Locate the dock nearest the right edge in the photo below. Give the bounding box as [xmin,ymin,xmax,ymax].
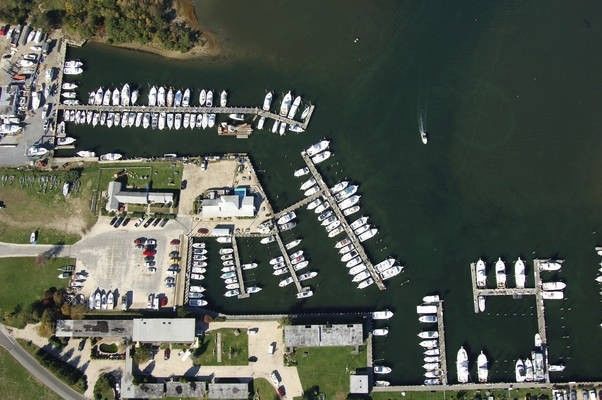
[470,258,564,384]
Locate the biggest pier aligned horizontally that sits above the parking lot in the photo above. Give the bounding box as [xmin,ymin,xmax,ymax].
[59,104,315,130]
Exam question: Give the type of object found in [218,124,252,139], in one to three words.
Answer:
ship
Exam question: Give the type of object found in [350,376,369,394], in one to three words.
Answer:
shed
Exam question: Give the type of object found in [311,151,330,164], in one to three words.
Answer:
boat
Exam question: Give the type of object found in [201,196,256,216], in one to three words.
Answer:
building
